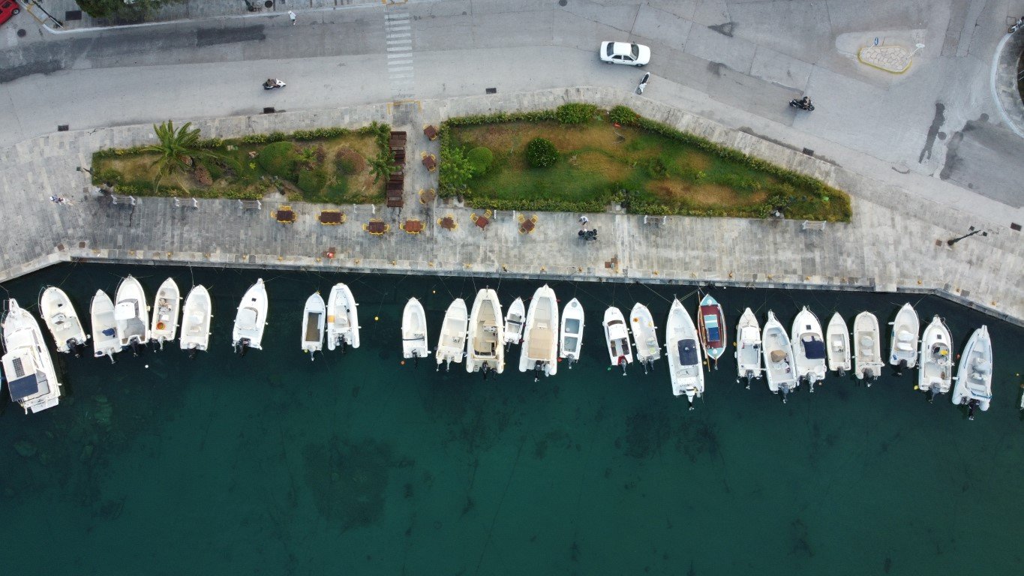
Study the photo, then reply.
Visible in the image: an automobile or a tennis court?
automobile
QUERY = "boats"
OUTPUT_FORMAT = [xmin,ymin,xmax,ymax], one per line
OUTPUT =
[917,315,957,405]
[696,292,726,371]
[762,311,799,402]
[664,296,706,411]
[630,303,663,371]
[178,284,214,362]
[850,312,886,388]
[112,275,152,356]
[602,306,633,374]
[465,285,505,378]
[826,312,852,377]
[90,289,123,365]
[791,307,828,394]
[434,298,469,372]
[519,286,561,383]
[400,298,431,371]
[560,298,585,372]
[733,308,762,388]
[325,284,362,357]
[0,303,63,418]
[150,277,183,353]
[0,362,5,408]
[40,286,91,358]
[888,303,922,377]
[504,297,526,351]
[1019,371,1024,410]
[952,327,994,414]
[302,292,327,362]
[231,280,267,357]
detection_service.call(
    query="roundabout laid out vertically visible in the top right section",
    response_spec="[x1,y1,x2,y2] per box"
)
[991,24,1024,130]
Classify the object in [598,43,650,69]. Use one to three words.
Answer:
car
